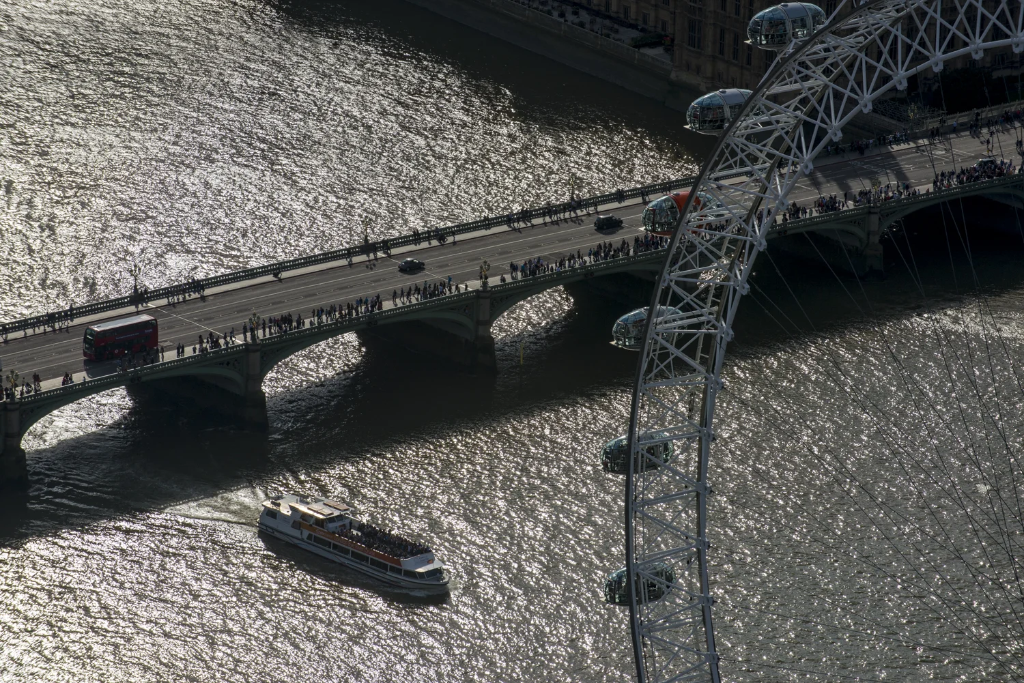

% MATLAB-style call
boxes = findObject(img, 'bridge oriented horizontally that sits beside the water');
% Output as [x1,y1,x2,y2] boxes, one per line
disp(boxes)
[0,129,1024,494]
